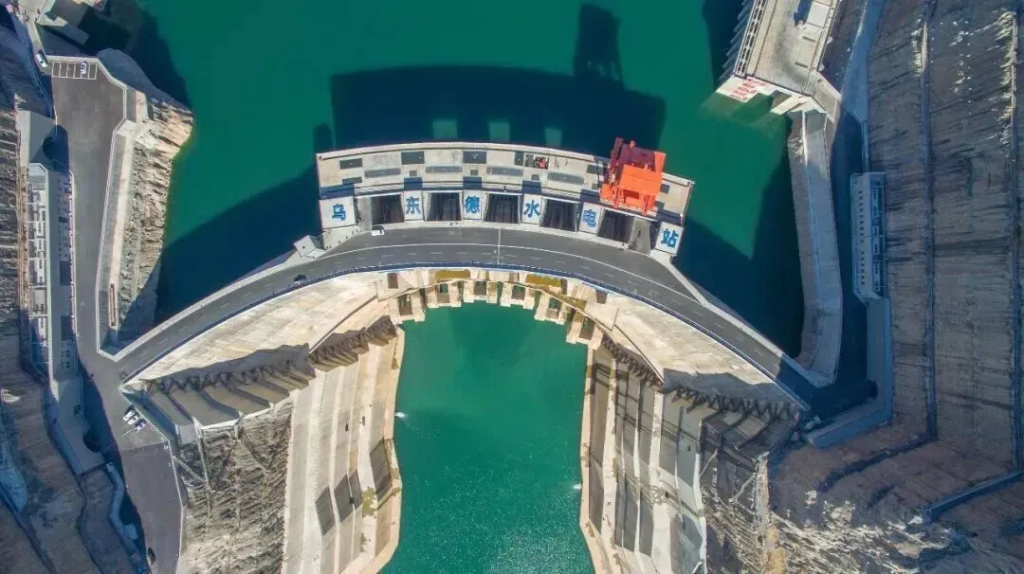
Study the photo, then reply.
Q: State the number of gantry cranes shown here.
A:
one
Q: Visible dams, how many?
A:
1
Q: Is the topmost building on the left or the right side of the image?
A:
left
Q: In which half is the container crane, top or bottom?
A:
top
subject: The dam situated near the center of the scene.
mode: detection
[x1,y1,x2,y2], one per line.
[111,142,815,410]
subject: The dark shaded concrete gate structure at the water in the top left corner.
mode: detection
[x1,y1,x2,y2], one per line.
[54,0,147,46]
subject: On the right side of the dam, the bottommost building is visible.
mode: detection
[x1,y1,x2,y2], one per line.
[850,167,890,291]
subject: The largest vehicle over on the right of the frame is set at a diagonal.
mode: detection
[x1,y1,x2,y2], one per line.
[804,415,823,430]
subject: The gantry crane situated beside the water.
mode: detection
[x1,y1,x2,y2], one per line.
[599,139,668,217]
